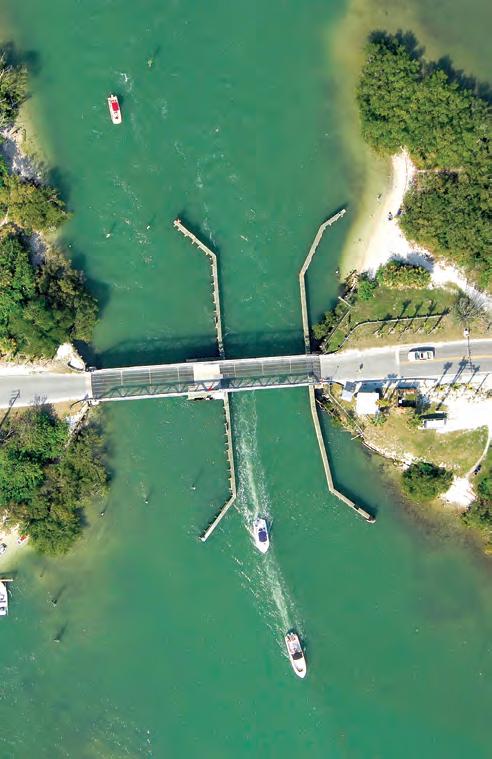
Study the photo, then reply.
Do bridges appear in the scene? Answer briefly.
Yes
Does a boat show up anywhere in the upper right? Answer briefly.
No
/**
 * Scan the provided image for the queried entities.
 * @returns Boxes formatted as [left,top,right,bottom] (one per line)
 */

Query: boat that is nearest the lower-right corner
[285,632,305,678]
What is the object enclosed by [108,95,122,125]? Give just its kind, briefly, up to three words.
boat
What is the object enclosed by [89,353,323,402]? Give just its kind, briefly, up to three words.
bridge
